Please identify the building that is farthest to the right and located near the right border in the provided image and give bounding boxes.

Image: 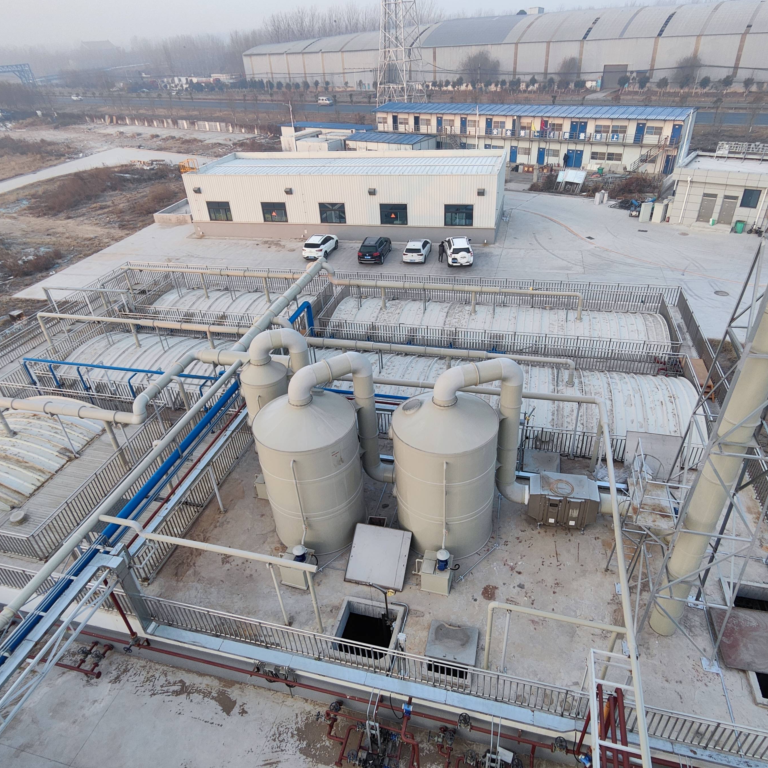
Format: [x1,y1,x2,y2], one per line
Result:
[671,138,768,232]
